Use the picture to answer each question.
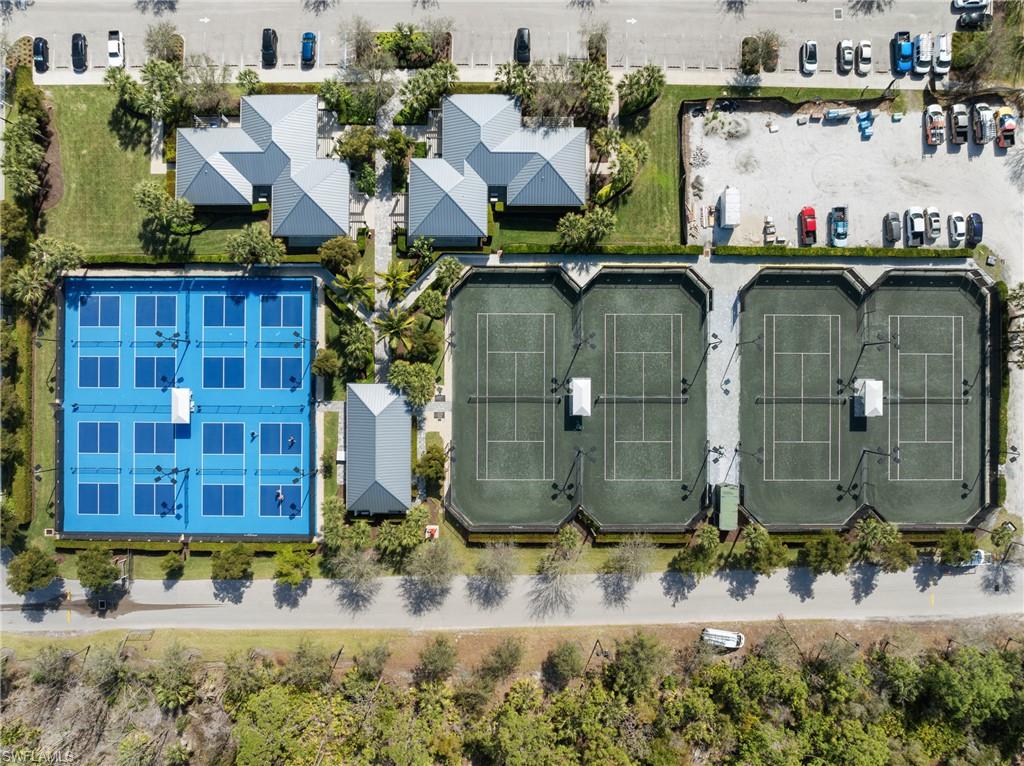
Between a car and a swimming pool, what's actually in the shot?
car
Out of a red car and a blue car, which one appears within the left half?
blue car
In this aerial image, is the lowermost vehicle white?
Yes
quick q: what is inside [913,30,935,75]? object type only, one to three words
vehicle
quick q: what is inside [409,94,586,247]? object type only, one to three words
building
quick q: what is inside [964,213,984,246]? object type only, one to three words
car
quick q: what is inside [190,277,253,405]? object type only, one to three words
sports court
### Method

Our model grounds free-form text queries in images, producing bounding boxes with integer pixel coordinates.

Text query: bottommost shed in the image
[715,483,737,530]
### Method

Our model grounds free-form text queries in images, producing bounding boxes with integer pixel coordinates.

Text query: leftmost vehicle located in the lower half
[701,628,743,650]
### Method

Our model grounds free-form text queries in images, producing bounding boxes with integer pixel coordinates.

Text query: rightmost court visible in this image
[866,273,985,523]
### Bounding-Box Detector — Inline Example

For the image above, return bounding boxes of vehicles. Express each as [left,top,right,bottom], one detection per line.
[913,30,935,75]
[801,40,819,74]
[838,39,856,74]
[105,28,125,68]
[67,34,89,72]
[947,211,967,244]
[923,207,942,240]
[933,30,955,75]
[957,10,994,30]
[950,105,971,146]
[882,210,902,245]
[259,27,279,66]
[974,104,998,145]
[925,105,947,147]
[994,107,1016,149]
[964,213,984,246]
[299,32,317,66]
[830,205,850,245]
[31,38,50,73]
[701,628,743,650]
[799,206,818,245]
[514,27,532,66]
[894,31,915,74]
[953,0,990,13]
[856,40,874,75]
[905,207,926,246]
